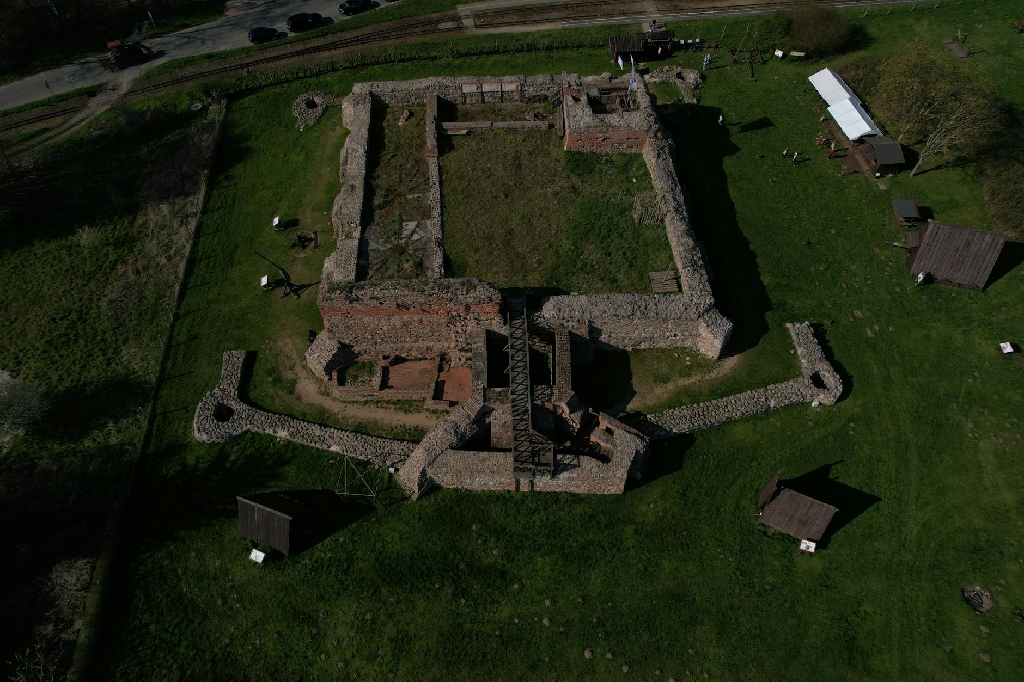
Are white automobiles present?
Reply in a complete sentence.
No, the photo shows no white automobile.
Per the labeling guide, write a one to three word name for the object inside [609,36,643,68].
shed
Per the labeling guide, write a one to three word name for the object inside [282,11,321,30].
car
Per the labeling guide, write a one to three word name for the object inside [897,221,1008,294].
building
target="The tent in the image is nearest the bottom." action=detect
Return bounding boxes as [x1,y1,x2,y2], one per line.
[813,98,885,160]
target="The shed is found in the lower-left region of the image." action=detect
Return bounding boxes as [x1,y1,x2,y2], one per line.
[233,494,313,557]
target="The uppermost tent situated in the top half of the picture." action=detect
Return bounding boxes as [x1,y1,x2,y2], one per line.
[795,67,864,126]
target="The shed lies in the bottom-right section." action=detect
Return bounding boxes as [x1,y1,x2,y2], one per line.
[754,468,841,541]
